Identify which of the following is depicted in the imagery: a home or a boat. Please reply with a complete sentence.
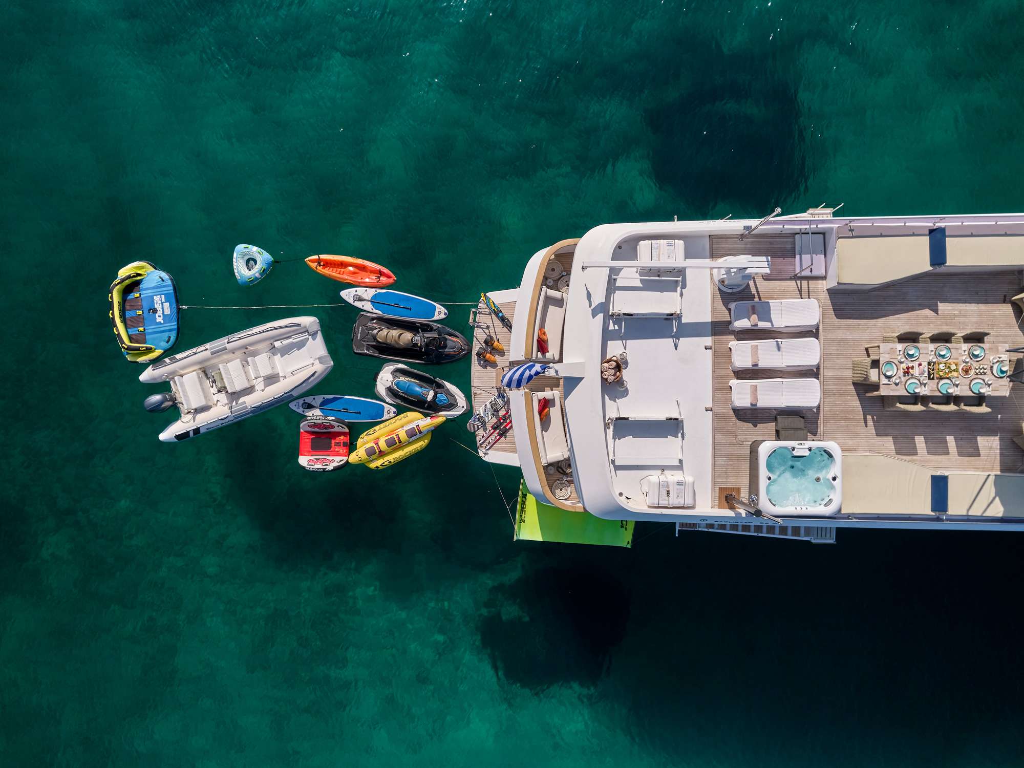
The one in the frame is a boat.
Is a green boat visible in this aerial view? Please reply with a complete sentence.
No, the frame has no green boat in it.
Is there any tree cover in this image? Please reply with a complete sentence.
No, no tree cover is visible.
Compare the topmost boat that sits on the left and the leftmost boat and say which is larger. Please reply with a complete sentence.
Of the two, the leftmost boat is larger and the topmost boat that sits on the left is the smaller one.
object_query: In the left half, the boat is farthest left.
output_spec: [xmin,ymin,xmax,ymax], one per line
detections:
[139,316,334,441]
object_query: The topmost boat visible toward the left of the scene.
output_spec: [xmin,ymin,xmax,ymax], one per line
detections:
[304,256,398,287]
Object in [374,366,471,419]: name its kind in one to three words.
boat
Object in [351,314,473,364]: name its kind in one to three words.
boat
